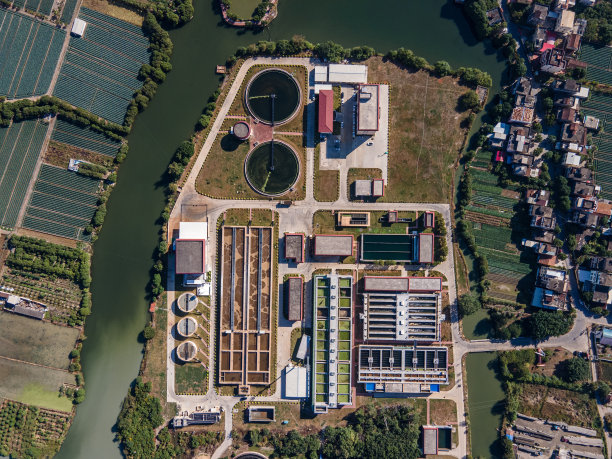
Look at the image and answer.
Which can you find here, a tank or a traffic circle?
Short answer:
tank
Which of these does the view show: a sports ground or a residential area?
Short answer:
residential area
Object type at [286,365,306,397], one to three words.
shed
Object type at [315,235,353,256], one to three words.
building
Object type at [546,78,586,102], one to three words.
house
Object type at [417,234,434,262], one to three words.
building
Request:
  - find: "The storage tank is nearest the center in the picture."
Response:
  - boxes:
[244,139,301,197]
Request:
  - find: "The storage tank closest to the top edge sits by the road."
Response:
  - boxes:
[245,68,301,126]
